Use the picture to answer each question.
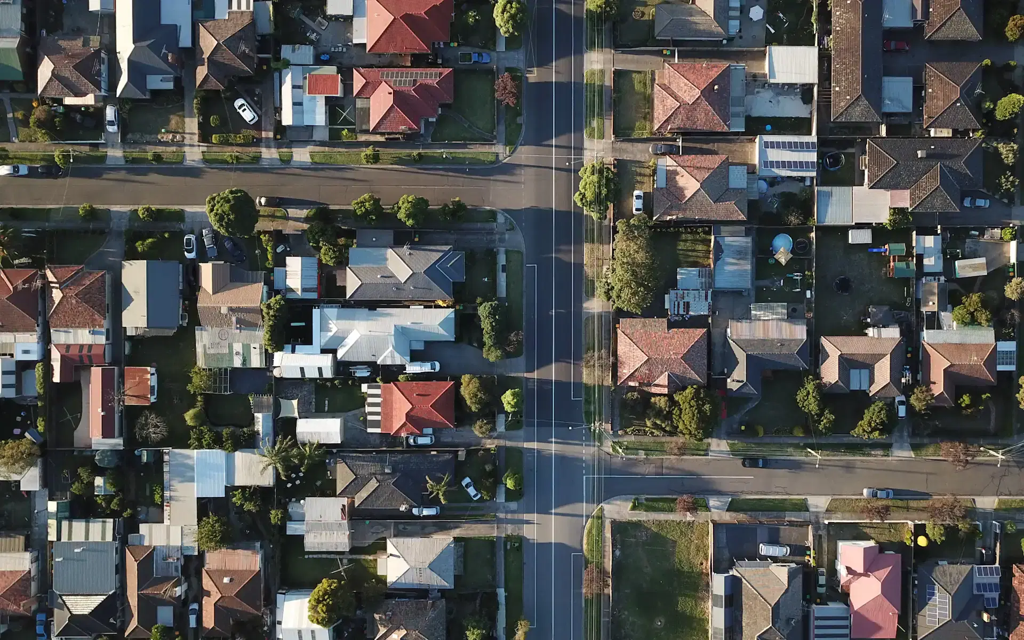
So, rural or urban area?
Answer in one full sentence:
The area shown here is urban.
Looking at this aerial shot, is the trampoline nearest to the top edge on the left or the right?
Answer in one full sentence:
The trampoline nearest to the top edge appears in the right half of the scene.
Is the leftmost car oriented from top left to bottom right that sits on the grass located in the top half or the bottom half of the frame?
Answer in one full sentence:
The leftmost car oriented from top left to bottom right that sits on the grass is in the top half of the image.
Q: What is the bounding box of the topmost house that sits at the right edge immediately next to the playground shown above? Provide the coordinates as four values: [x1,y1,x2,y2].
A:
[812,138,983,226]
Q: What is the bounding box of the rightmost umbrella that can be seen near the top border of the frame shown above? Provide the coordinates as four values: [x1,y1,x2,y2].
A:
[747,7,763,22]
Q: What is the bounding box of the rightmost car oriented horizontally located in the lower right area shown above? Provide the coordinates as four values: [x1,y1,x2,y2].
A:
[862,486,892,499]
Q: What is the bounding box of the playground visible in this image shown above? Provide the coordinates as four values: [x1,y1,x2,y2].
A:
[868,244,917,277]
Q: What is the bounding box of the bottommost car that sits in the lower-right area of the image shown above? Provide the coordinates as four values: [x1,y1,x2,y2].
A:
[814,566,828,593]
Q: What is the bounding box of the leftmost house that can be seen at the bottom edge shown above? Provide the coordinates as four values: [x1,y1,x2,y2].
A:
[0,531,40,617]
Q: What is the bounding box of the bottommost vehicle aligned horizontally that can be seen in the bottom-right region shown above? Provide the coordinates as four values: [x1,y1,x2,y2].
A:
[758,542,790,558]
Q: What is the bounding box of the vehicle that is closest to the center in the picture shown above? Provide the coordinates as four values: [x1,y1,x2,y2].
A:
[407,361,440,376]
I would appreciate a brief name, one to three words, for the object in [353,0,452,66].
house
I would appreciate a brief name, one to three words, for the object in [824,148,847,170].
trampoline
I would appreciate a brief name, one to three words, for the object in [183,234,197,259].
car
